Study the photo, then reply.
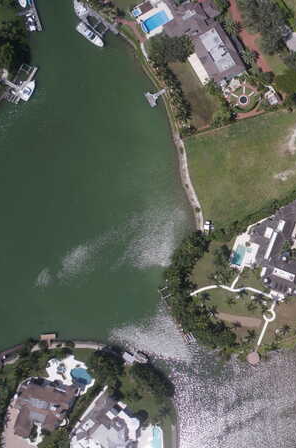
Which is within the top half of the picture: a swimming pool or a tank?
swimming pool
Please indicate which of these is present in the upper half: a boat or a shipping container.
boat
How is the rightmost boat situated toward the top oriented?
diagonally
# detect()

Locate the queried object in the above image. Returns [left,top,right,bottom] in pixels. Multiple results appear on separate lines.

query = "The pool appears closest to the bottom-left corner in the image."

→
[71,367,93,385]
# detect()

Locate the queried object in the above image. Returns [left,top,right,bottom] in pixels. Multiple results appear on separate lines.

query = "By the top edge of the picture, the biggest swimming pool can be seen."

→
[143,9,171,32]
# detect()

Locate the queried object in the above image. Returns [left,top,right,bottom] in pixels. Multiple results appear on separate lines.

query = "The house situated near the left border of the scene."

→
[14,378,81,438]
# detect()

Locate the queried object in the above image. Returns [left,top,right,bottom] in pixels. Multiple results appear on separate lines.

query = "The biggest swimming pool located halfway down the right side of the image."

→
[230,246,248,267]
